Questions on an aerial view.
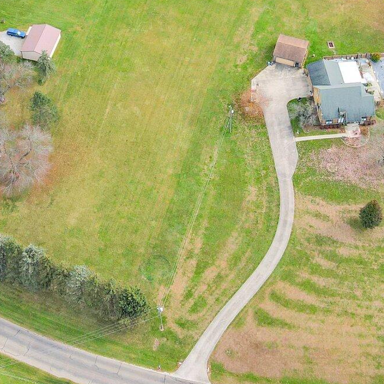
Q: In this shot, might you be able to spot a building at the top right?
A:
Yes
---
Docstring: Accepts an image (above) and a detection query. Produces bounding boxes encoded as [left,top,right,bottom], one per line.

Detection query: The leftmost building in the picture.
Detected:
[21,22,61,62]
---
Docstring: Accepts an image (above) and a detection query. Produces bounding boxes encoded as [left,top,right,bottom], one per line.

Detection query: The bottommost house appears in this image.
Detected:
[307,57,376,131]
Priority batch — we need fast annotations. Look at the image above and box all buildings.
[21,22,61,62]
[273,34,308,69]
[307,57,376,131]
